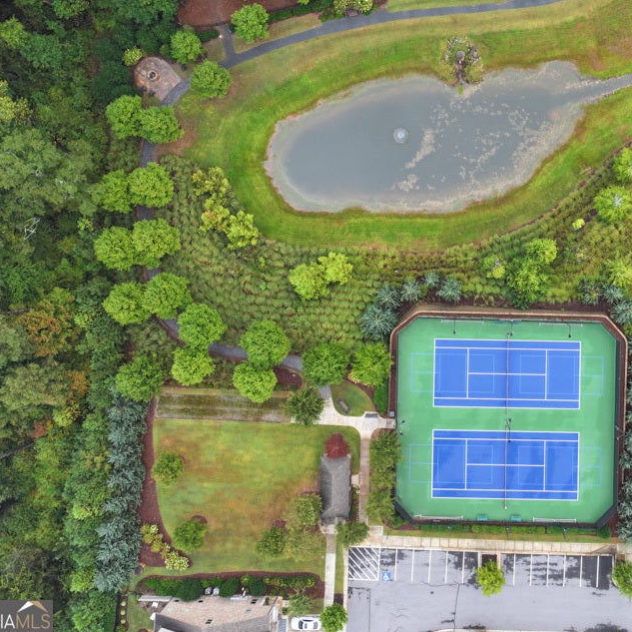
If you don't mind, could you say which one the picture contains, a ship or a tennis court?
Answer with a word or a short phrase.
tennis court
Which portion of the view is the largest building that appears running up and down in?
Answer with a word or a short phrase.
bottom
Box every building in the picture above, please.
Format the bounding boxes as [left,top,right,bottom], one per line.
[155,594,287,632]
[320,450,353,525]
